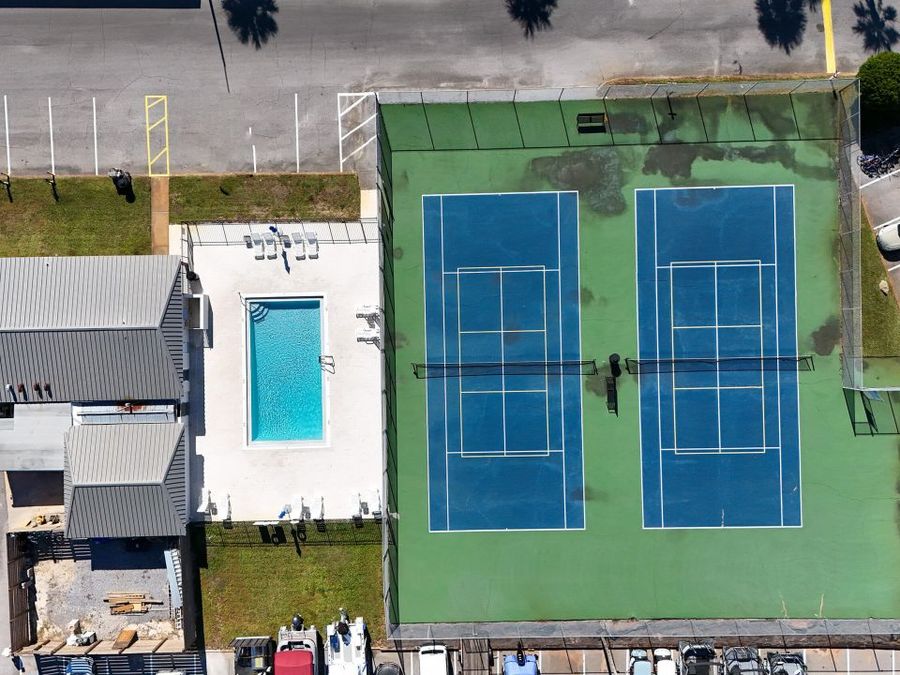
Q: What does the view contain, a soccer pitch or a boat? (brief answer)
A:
boat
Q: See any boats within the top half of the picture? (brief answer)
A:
No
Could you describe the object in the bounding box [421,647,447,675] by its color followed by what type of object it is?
white car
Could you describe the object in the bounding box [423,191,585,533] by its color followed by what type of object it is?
blue tennis court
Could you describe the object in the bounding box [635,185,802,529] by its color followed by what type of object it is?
blue tennis court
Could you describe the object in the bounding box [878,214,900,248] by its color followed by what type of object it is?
white car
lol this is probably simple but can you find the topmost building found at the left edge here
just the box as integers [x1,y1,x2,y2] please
[0,255,194,402]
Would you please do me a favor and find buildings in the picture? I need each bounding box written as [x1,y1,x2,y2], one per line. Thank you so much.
[0,255,194,402]
[63,420,197,539]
